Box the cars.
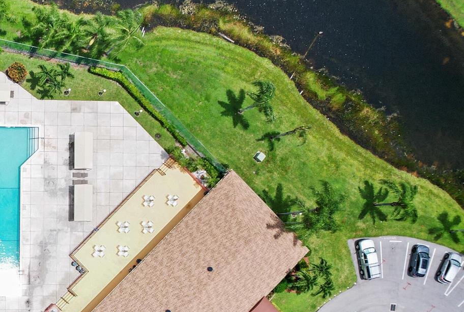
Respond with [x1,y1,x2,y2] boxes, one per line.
[354,241,380,280]
[437,250,464,286]
[406,244,428,278]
